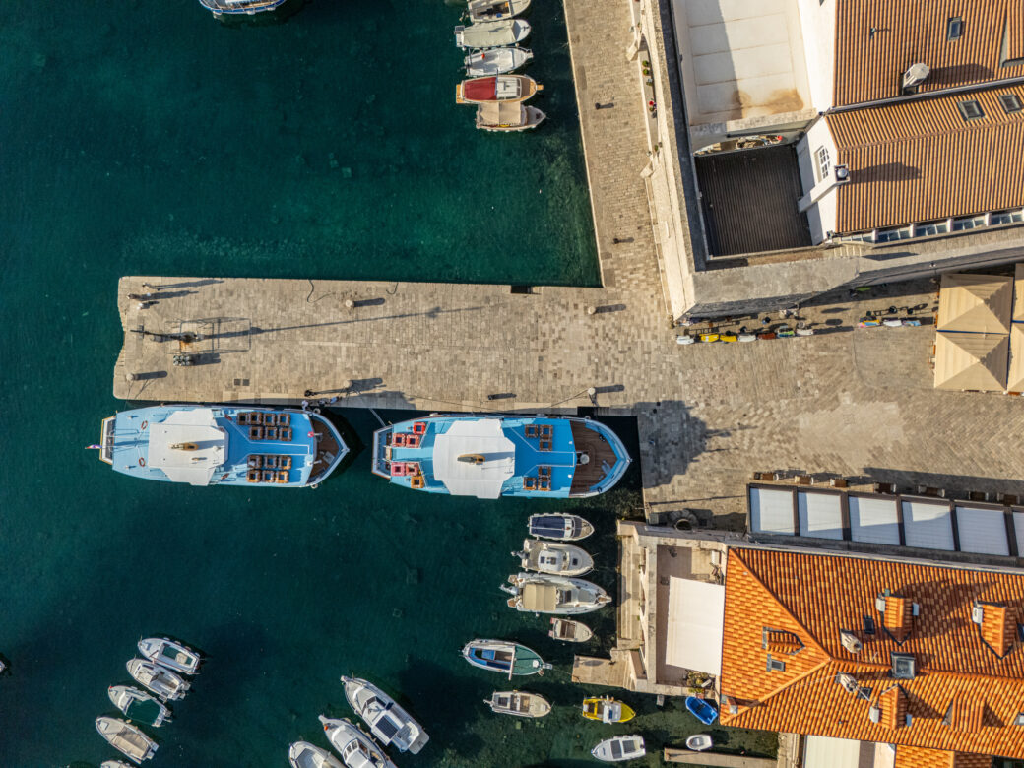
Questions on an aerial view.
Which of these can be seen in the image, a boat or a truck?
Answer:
boat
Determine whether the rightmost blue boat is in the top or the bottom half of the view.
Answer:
bottom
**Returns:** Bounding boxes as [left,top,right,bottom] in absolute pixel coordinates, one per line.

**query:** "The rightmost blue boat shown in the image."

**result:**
[688,697,718,726]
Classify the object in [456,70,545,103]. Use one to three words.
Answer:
boat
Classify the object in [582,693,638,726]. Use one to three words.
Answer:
boat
